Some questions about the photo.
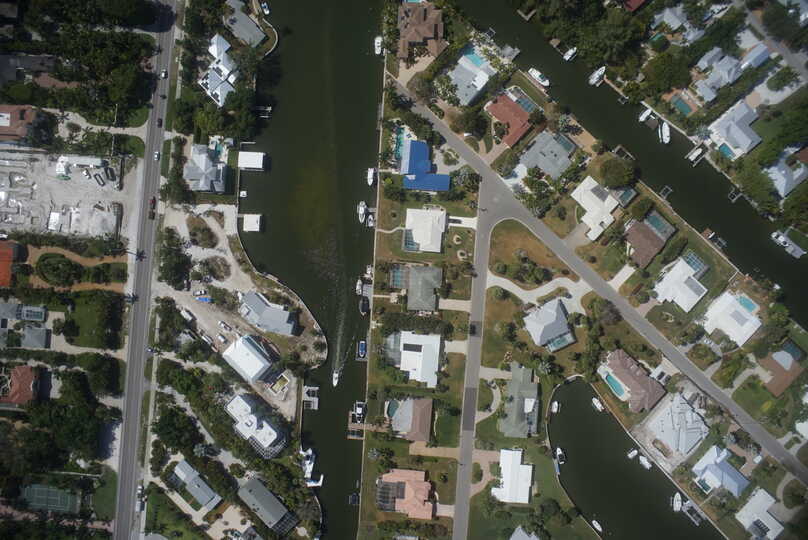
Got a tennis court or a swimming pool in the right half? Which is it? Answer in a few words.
swimming pool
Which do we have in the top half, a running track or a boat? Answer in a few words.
boat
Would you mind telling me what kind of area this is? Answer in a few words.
residential area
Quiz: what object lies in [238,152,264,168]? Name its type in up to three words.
building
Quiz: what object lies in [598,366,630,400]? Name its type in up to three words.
swimming pool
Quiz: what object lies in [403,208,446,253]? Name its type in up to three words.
house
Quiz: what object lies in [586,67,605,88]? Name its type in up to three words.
boat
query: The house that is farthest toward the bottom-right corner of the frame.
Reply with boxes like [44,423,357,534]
[735,489,784,540]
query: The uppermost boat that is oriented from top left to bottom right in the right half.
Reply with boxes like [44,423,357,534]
[529,67,548,84]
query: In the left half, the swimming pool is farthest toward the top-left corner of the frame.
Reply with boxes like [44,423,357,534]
[208,136,229,164]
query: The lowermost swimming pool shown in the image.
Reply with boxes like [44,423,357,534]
[694,476,721,495]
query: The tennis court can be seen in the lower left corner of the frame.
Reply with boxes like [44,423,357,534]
[17,482,77,518]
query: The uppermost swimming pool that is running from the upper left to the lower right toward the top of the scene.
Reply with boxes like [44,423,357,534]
[460,45,497,77]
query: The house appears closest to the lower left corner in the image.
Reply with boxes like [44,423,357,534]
[0,366,38,407]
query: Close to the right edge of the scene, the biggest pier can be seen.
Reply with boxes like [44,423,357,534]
[770,227,806,258]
